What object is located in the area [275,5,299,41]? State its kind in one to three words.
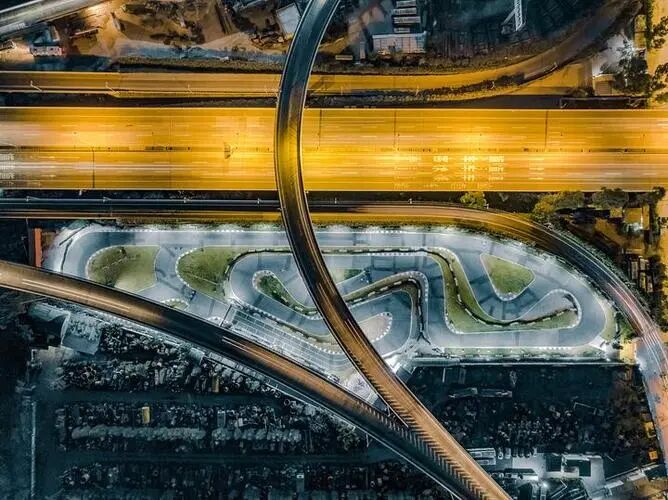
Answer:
building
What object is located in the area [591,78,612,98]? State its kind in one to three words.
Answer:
shed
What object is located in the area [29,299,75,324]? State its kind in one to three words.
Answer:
shed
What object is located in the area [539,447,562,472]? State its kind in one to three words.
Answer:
building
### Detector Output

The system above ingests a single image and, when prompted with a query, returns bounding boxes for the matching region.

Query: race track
[42,223,622,408]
